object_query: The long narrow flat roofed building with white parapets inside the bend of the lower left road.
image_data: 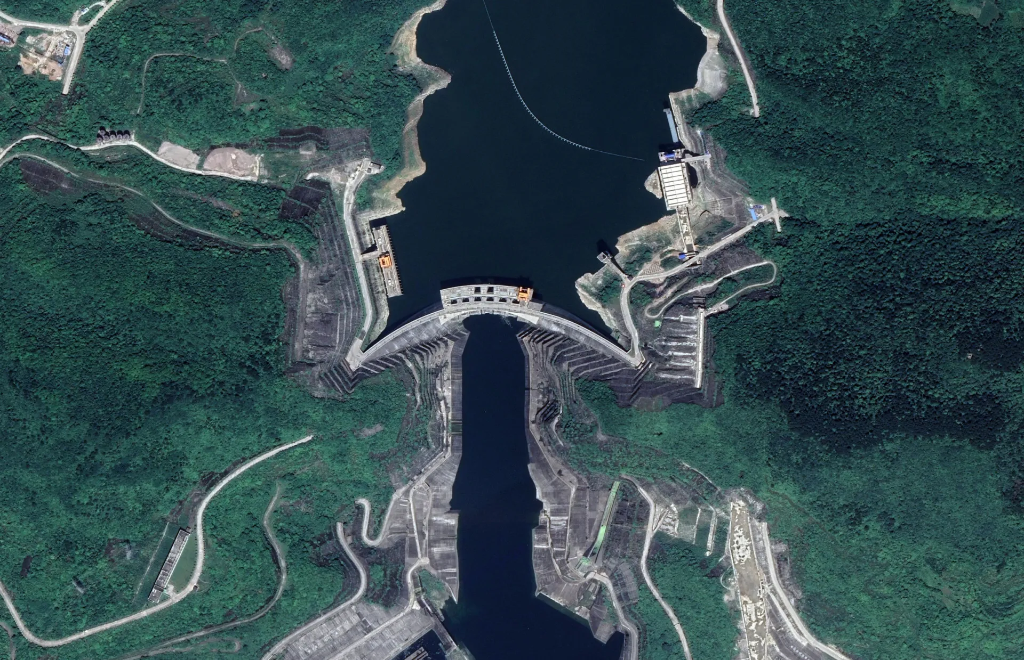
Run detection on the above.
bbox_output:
[148,527,191,603]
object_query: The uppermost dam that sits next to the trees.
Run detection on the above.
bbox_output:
[357,284,638,368]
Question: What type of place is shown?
port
